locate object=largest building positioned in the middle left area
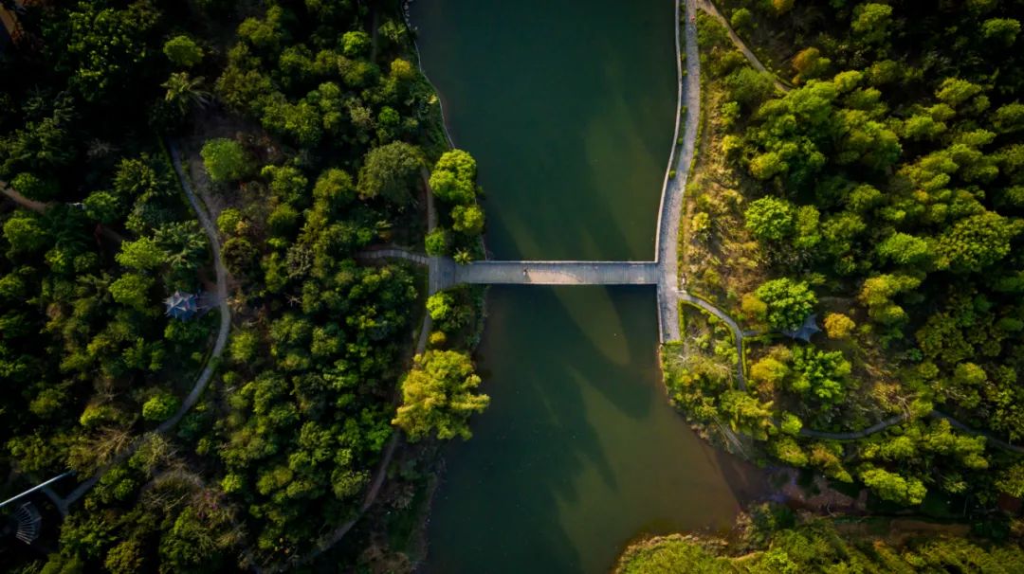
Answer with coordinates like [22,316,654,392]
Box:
[157,284,201,324]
